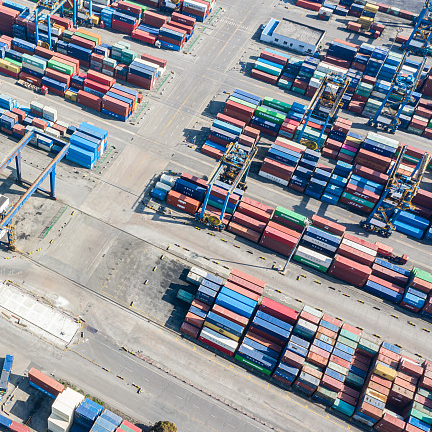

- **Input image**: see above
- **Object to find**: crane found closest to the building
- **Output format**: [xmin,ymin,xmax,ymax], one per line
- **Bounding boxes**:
[290,70,352,154]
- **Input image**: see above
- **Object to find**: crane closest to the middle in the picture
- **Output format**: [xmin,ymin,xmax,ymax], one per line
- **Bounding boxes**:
[193,140,259,230]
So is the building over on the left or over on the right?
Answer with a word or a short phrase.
right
